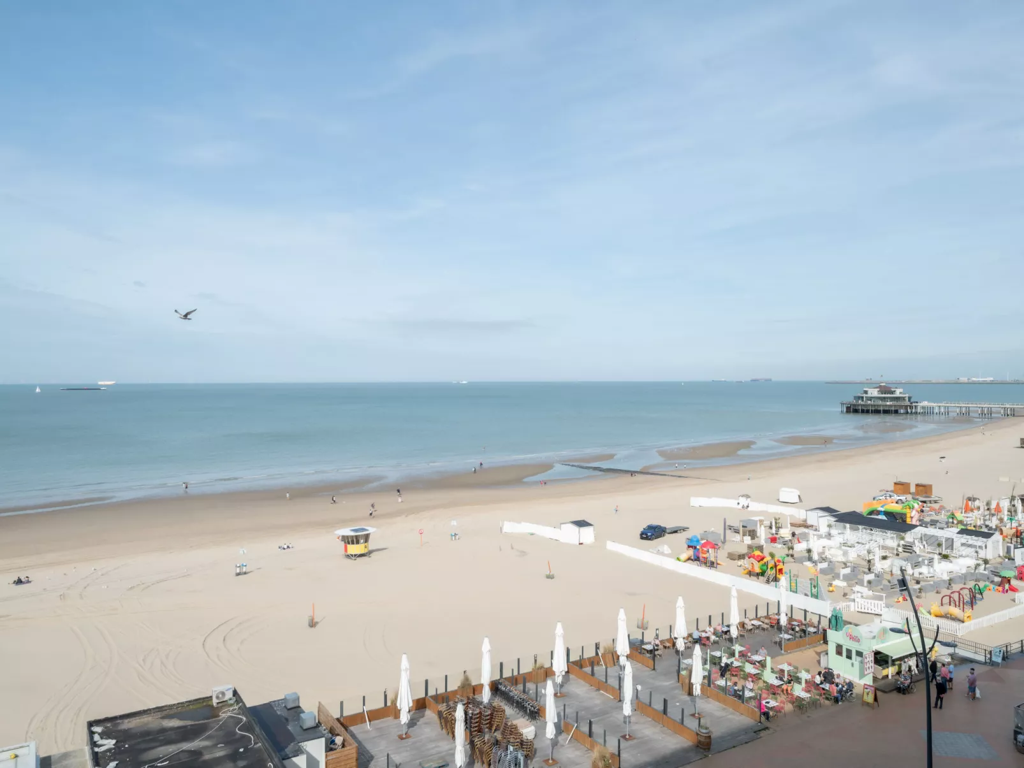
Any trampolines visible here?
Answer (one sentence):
No, I find no trampoline anywhere in the image.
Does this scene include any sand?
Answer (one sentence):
Yes, sand shows up in the scene.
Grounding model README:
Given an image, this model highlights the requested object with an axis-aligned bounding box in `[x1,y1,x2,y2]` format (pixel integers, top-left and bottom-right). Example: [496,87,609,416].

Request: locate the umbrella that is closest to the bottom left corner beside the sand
[394,650,415,741]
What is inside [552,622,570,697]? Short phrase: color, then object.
white umbrella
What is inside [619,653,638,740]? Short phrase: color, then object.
white umbrella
